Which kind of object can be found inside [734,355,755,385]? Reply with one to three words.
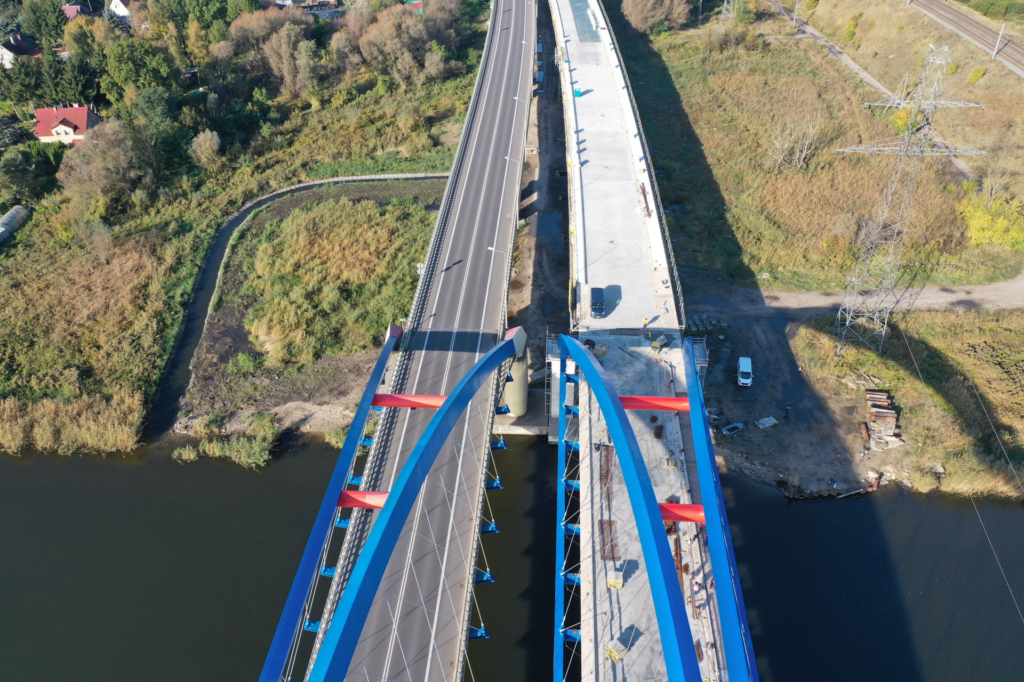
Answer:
vehicle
